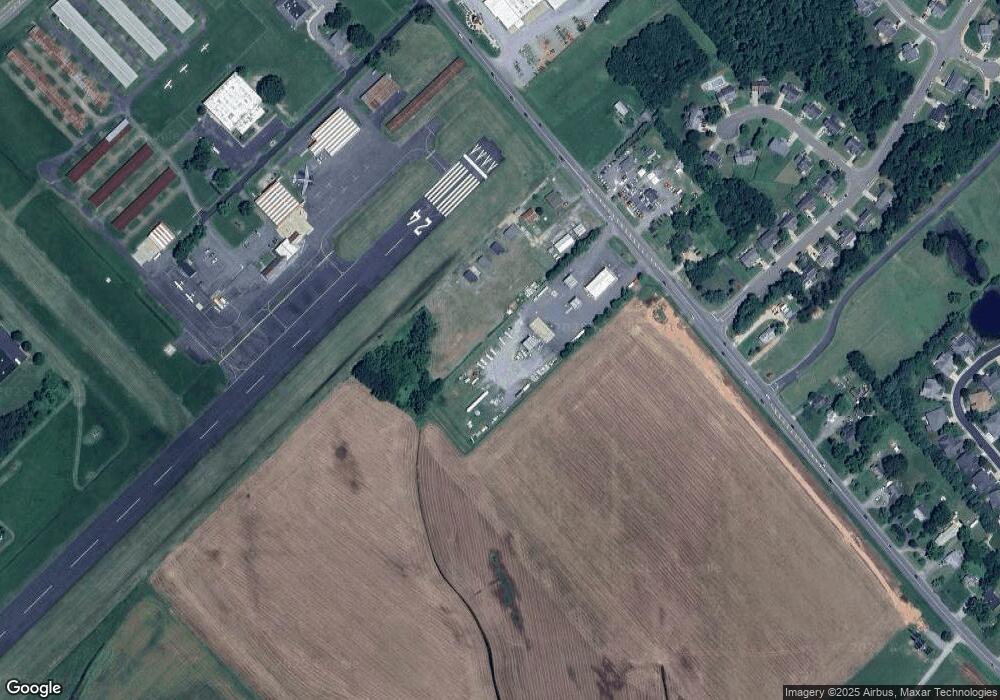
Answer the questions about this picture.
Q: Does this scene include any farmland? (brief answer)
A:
Yes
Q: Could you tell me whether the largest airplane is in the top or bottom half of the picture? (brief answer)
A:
top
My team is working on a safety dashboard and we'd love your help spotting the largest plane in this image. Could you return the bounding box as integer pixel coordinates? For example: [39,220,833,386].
[293,165,312,195]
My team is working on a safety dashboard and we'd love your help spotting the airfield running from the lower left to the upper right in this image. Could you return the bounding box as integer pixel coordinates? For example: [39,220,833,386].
[0,69,505,659]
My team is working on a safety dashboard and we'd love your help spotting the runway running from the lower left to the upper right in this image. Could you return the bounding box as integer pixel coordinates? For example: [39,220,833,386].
[0,142,505,659]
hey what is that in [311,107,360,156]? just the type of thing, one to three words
hangar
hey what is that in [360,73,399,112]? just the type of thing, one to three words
hangar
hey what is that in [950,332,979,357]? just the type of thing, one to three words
house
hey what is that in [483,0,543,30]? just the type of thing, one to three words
building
